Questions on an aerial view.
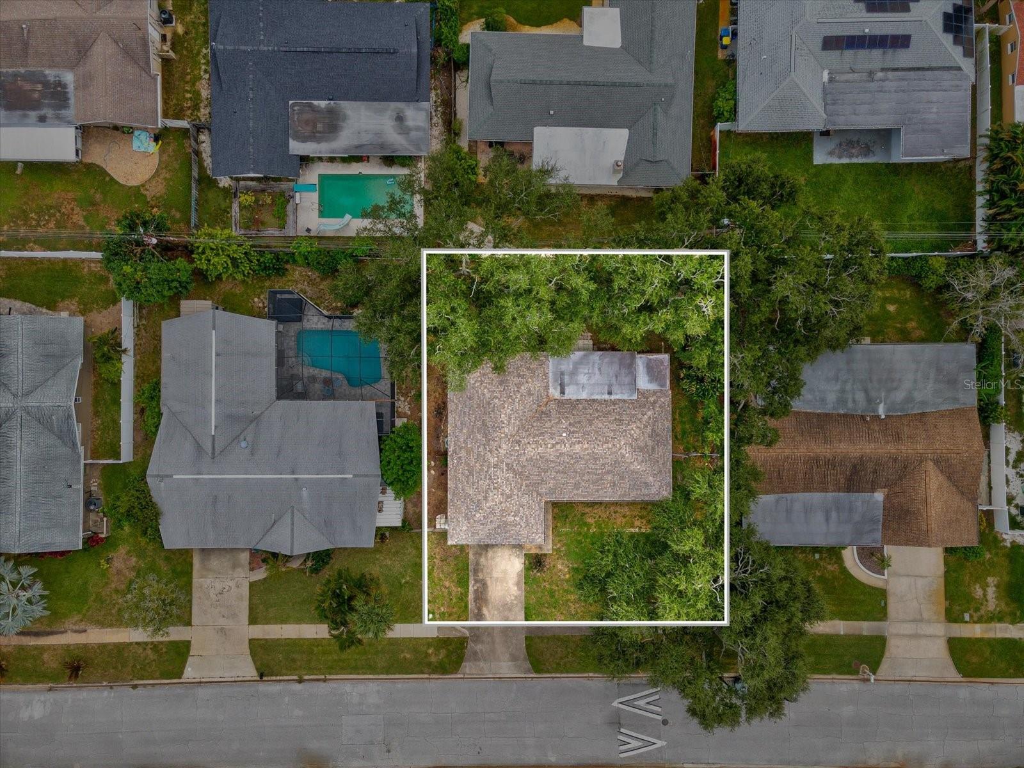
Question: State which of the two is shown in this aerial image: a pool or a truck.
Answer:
pool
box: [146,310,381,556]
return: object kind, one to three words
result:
house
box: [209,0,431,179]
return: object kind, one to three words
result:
house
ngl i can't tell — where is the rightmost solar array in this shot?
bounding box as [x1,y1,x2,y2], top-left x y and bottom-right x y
[944,0,975,56]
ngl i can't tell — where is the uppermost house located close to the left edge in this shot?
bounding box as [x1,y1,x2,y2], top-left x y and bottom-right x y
[0,0,170,161]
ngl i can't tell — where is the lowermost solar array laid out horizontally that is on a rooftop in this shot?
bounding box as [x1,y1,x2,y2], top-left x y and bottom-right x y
[823,35,912,50]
